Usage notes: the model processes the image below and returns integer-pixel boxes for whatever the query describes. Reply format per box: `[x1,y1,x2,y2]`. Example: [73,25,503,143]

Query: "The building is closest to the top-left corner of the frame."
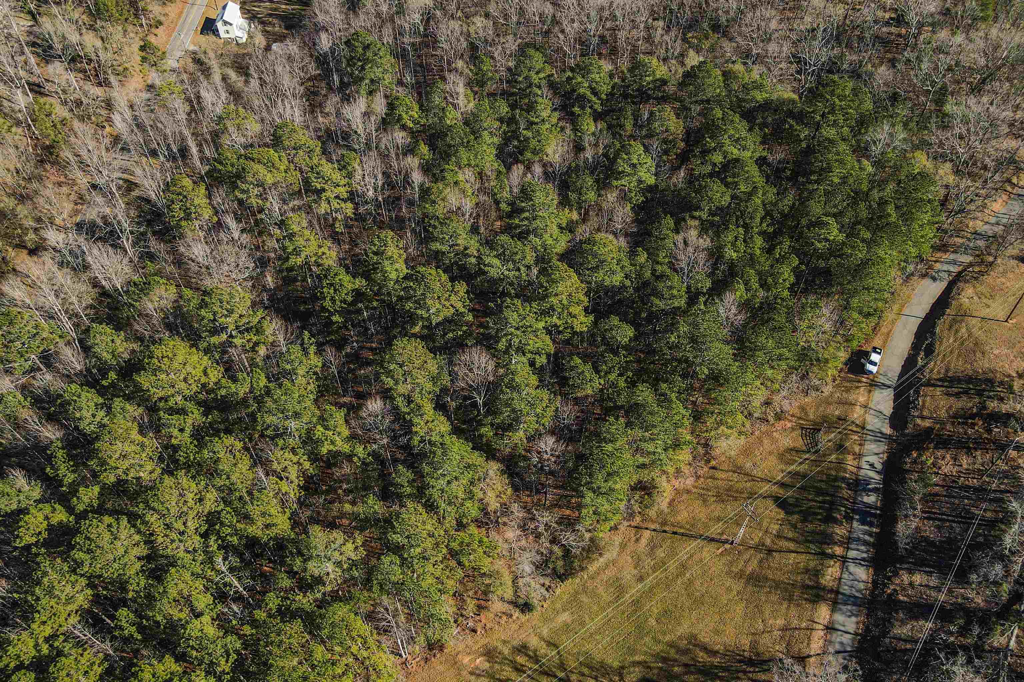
[220,0,257,39]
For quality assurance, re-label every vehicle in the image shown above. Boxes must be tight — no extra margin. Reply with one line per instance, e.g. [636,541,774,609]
[860,347,881,375]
